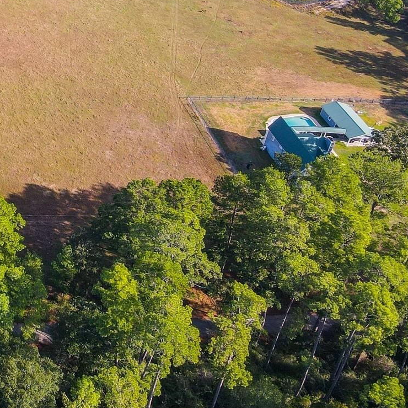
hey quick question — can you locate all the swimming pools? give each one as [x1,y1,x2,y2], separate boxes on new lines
[290,117,316,129]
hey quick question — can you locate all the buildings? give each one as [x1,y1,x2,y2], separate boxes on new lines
[261,116,339,186]
[320,98,395,163]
